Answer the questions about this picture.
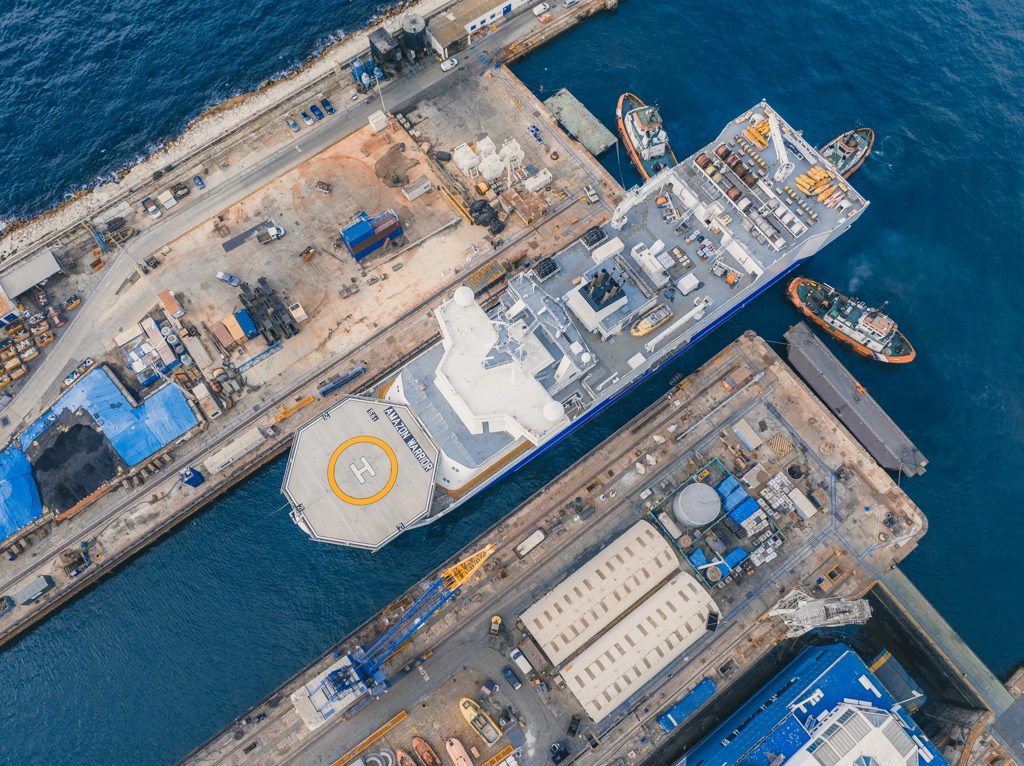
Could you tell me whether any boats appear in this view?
Yes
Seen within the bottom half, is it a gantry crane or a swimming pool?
gantry crane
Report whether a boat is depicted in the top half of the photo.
Yes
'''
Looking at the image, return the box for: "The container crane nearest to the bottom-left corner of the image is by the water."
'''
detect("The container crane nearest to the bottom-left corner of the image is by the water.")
[290,541,499,731]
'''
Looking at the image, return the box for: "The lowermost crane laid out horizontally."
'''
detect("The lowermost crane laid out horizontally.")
[757,589,871,644]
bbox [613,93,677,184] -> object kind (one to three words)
boat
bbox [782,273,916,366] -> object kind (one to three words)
boat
